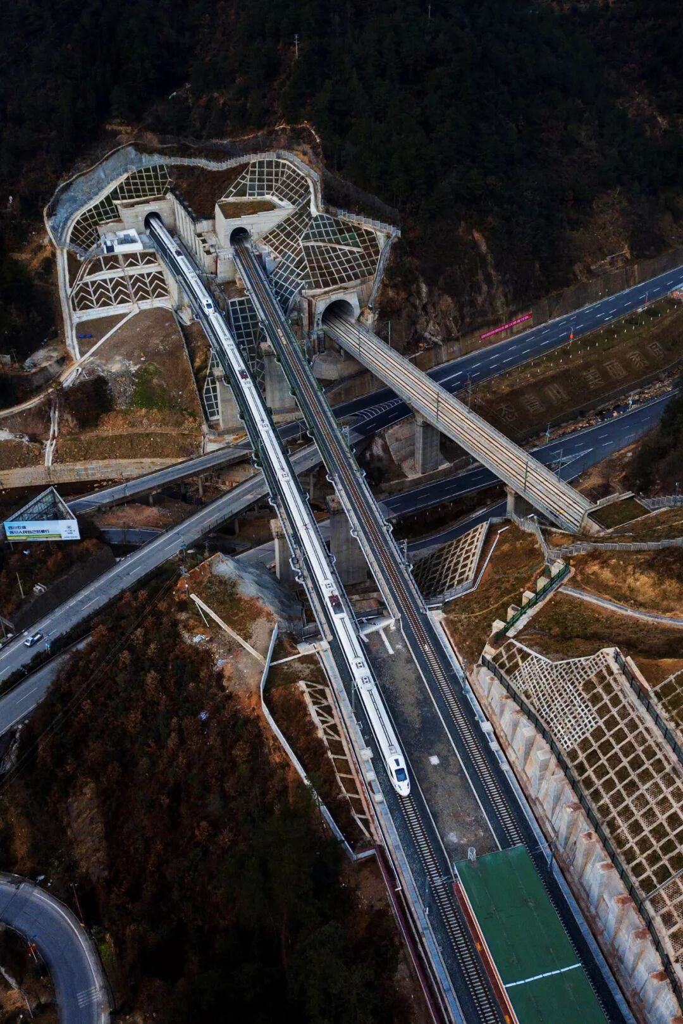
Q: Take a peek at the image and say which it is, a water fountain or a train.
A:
train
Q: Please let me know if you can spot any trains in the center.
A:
Yes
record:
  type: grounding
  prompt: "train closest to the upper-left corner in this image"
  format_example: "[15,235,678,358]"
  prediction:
[152,219,213,313]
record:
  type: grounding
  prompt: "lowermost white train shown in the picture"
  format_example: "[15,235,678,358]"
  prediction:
[207,309,405,789]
